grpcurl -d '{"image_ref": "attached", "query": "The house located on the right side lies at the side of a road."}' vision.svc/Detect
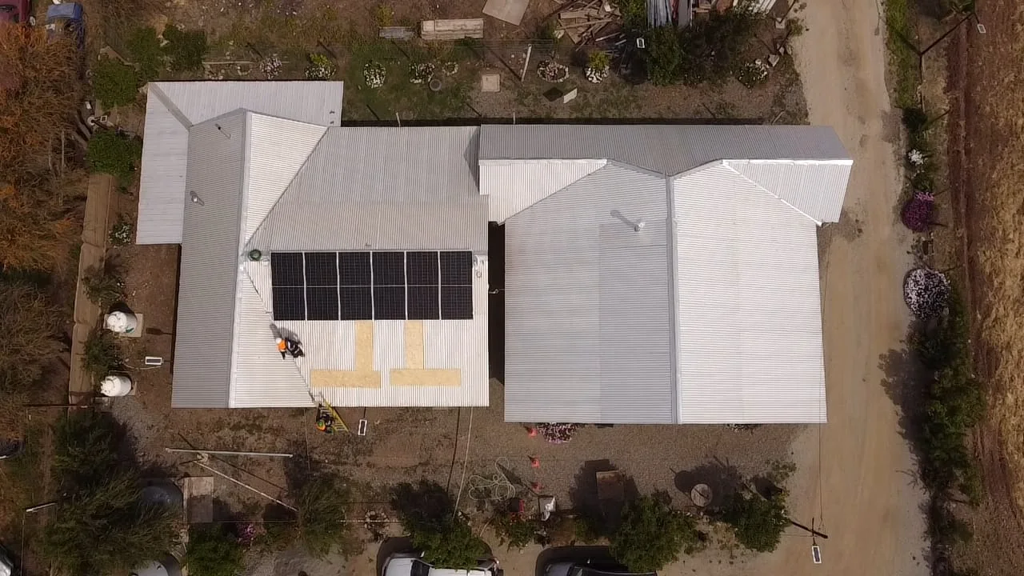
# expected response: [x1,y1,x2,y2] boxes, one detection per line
[479,125,853,423]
